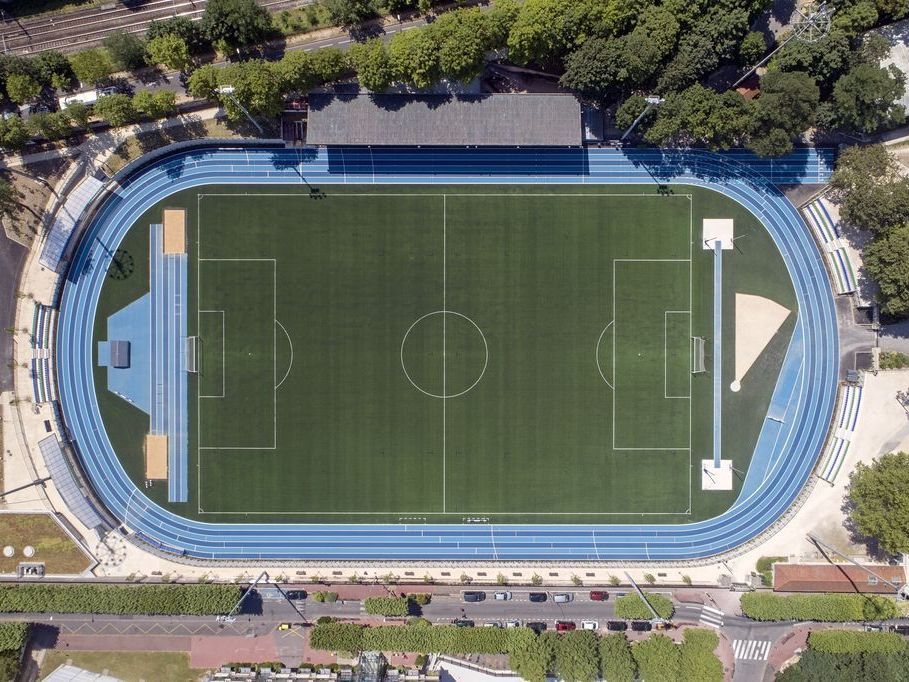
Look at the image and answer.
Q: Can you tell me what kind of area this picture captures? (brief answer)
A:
sports ground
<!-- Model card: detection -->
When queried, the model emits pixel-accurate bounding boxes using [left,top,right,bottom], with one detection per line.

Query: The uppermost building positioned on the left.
[0,510,100,575]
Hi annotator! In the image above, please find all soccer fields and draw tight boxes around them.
[196,192,693,524]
